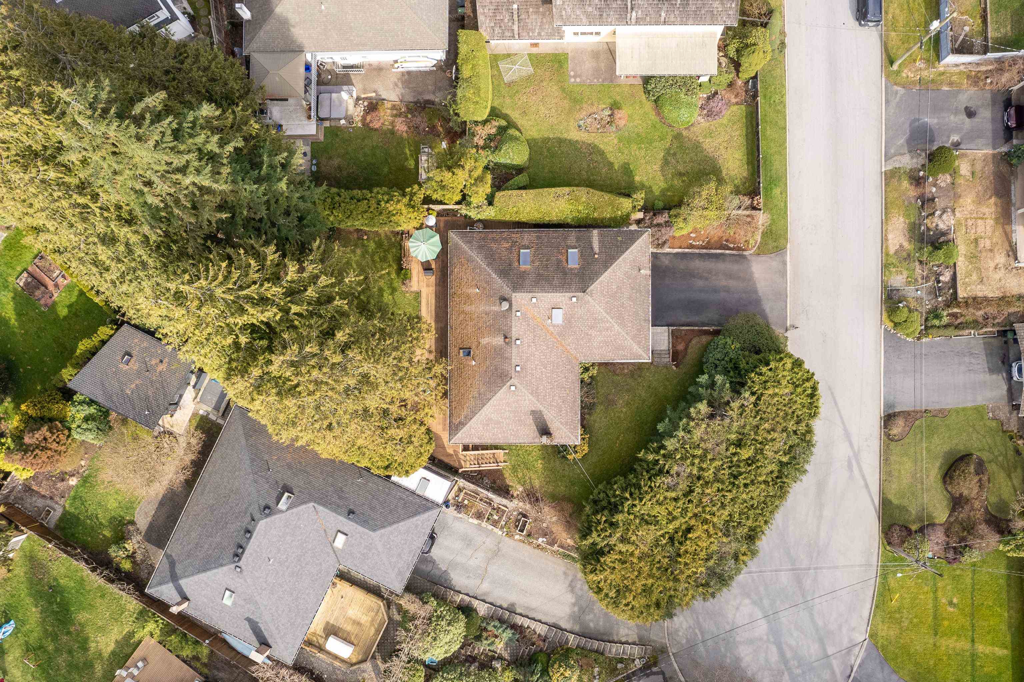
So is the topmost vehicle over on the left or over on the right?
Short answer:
right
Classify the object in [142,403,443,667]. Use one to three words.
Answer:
house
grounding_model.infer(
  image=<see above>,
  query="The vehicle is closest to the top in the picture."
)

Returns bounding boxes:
[856,0,890,26]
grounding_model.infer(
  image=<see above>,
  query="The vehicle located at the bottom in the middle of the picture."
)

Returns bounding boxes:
[421,532,443,558]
